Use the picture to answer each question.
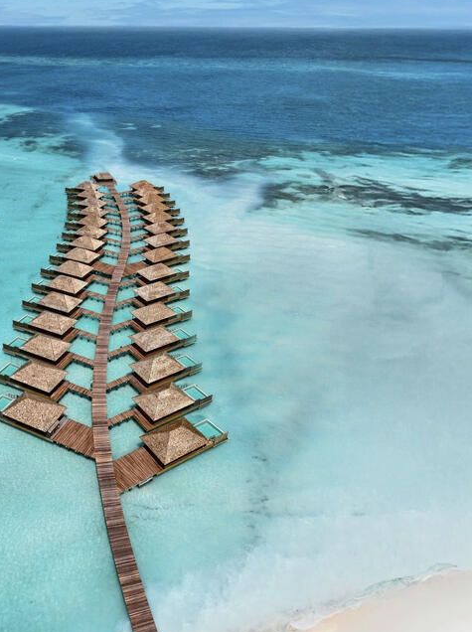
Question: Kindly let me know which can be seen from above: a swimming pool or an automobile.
swimming pool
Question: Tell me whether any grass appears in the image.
No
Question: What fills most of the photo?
water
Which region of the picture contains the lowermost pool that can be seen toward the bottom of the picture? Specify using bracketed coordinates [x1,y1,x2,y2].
[193,417,224,440]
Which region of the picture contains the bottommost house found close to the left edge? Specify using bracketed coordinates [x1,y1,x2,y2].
[0,391,72,447]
